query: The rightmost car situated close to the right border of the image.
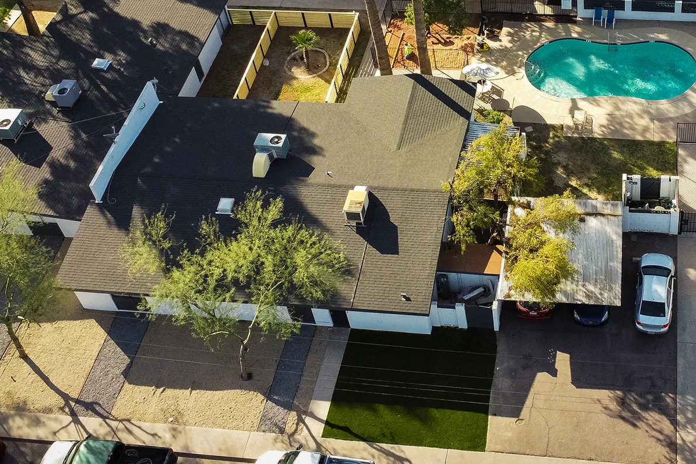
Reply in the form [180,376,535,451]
[632,247,679,334]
